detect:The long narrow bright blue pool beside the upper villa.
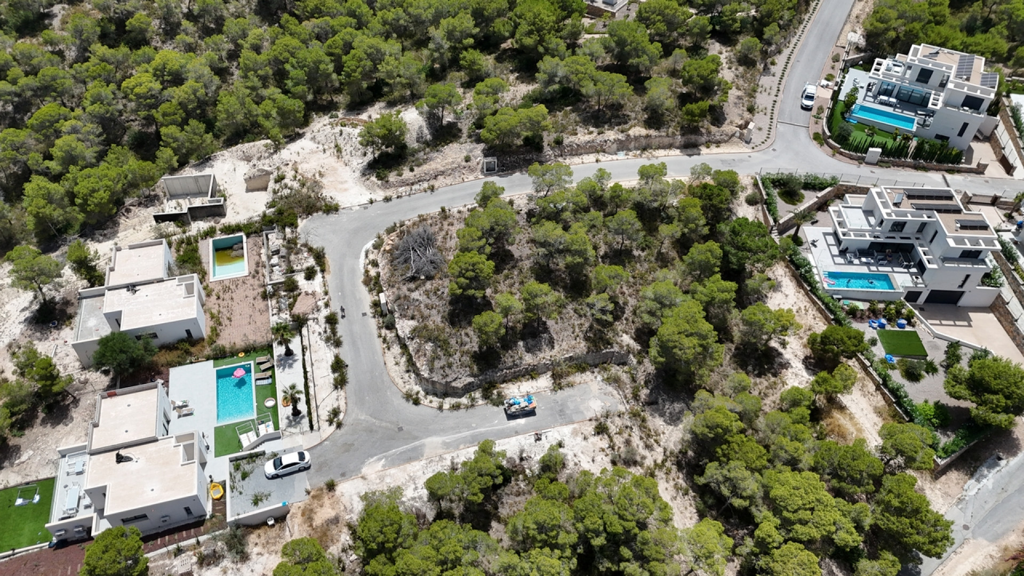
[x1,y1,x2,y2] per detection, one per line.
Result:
[848,102,918,141]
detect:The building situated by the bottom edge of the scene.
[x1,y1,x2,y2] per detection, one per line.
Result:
[44,380,211,555]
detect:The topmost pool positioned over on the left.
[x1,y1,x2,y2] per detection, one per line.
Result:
[209,232,248,281]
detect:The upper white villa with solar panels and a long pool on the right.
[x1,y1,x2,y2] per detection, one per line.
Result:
[865,43,1002,152]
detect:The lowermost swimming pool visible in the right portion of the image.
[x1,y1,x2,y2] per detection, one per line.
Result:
[818,268,903,304]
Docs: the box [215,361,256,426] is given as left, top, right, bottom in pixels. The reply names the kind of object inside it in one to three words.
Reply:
swimming pool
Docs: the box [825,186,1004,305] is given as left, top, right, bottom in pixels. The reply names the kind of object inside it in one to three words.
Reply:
house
